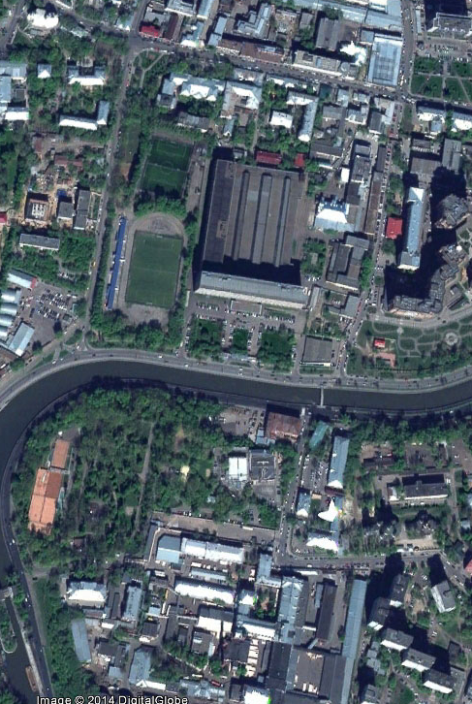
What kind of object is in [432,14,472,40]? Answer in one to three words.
building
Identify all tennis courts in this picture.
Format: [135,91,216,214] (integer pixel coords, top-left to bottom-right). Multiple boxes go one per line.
[28,466,61,534]
[50,439,70,470]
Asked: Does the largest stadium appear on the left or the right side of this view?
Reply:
left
